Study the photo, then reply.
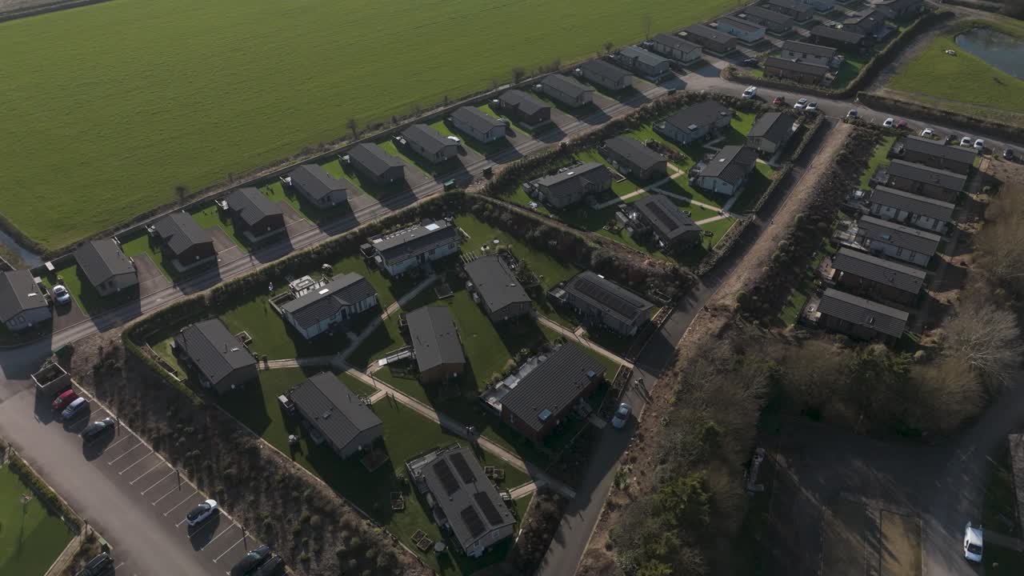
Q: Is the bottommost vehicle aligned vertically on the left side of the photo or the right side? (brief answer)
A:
right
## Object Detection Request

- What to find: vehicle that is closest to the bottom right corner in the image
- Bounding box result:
[963,517,985,564]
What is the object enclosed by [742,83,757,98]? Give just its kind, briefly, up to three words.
vehicle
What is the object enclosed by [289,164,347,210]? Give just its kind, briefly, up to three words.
building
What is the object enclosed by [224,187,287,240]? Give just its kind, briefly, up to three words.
building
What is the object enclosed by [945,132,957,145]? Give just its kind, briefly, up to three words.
vehicle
